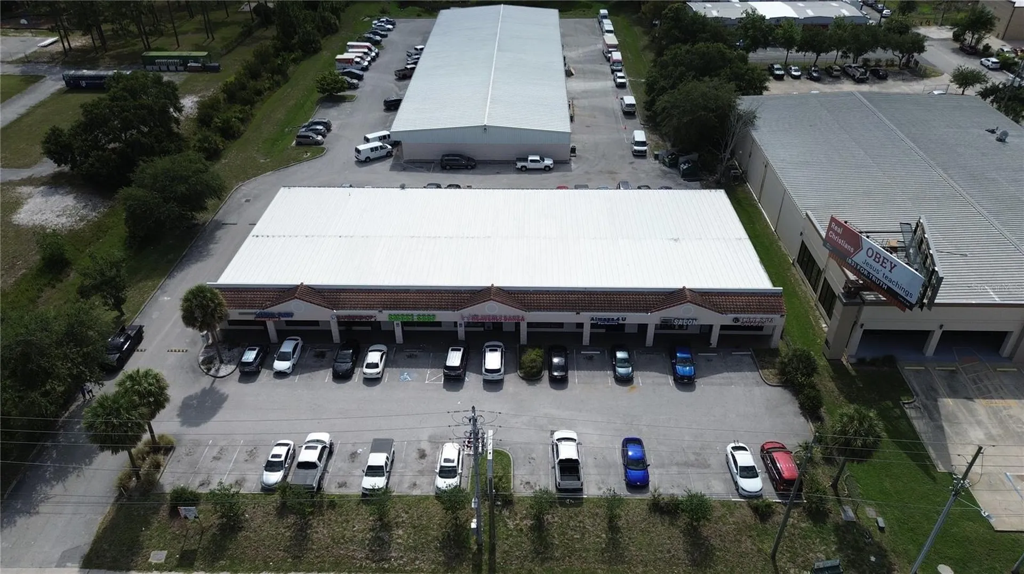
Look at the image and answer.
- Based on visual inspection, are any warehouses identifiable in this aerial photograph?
Yes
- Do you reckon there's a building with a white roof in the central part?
Yes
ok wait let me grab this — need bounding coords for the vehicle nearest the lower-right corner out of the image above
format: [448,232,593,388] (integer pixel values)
[760,445,801,496]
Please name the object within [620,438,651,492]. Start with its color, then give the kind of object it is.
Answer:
blue car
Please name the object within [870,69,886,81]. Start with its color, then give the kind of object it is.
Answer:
black vehicle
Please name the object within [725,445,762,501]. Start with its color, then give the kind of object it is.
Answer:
white car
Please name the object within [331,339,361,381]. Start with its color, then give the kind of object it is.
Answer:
black car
